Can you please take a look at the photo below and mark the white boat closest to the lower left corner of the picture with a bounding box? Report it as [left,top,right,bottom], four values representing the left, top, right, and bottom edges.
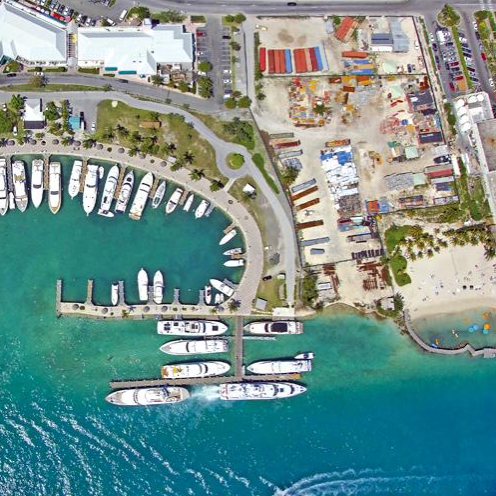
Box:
[105,387,191,405]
